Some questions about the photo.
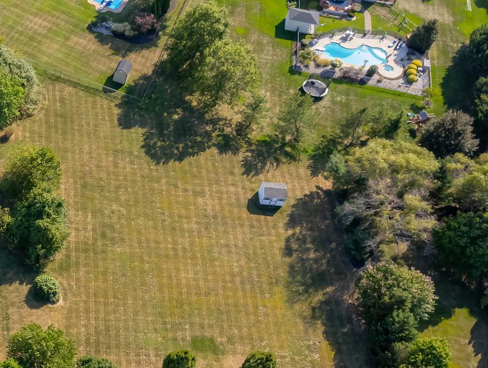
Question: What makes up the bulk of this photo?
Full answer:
What you mostly see from above here is grass.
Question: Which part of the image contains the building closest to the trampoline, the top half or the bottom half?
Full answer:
You can find the building closest to the trampoline in the top half.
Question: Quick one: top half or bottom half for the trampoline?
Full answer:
You can find the trampoline in the top half.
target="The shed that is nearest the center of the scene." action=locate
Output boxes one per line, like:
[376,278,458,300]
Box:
[259,185,292,207]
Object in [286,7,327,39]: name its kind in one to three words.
building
